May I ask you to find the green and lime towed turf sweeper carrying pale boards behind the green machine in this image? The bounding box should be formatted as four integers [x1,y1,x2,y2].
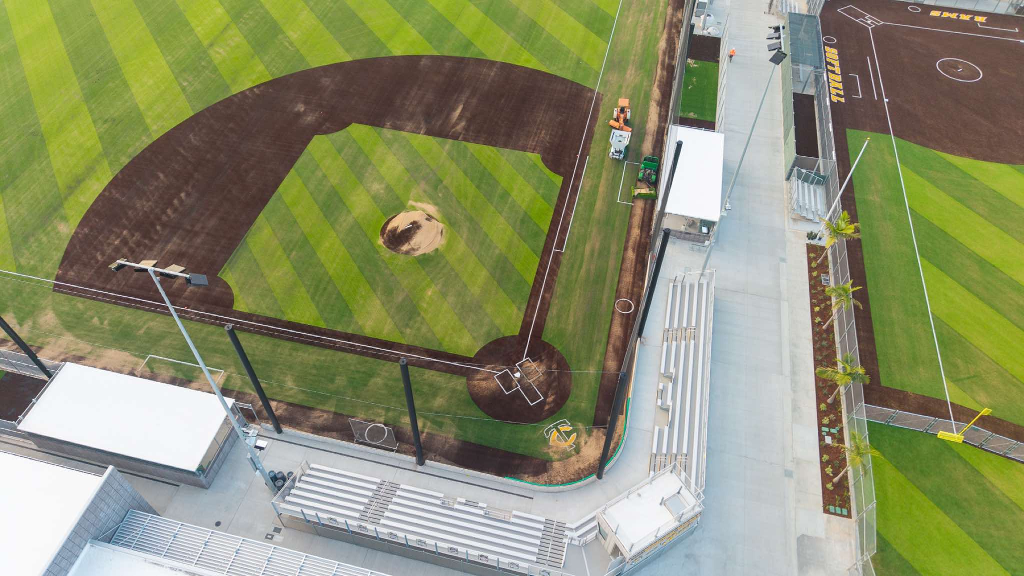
[633,178,657,200]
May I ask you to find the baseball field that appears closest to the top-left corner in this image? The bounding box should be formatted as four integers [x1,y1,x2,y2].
[0,0,685,483]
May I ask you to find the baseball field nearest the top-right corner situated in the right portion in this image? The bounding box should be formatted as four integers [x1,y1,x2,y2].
[809,0,1024,467]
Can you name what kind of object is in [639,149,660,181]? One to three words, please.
vehicle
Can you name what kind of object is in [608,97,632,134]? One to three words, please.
work vehicle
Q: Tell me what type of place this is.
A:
sports ground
